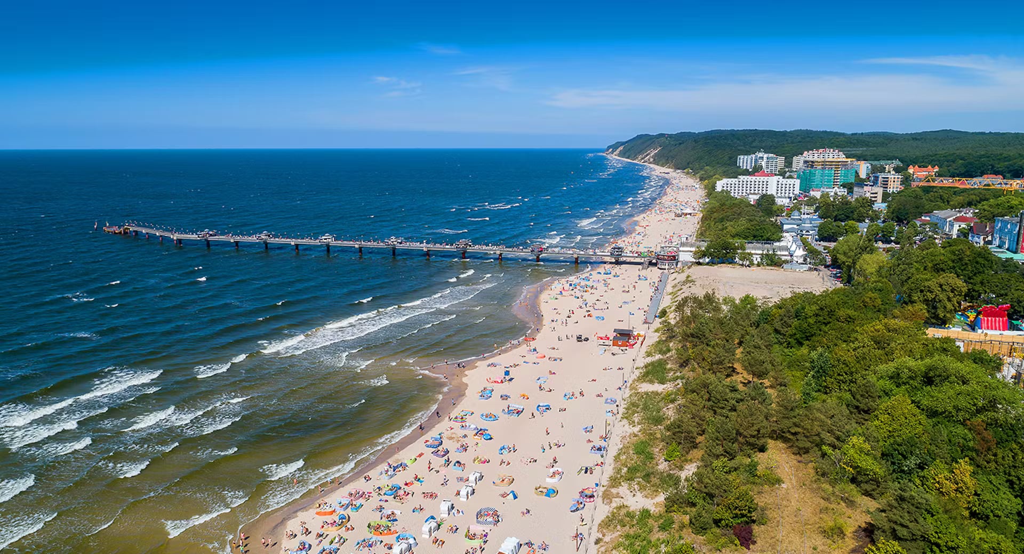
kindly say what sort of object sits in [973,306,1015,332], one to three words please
building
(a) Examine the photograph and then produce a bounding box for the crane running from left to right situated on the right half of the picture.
[913,176,1024,198]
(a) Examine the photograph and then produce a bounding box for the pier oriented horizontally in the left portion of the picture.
[114,224,657,263]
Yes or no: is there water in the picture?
Yes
